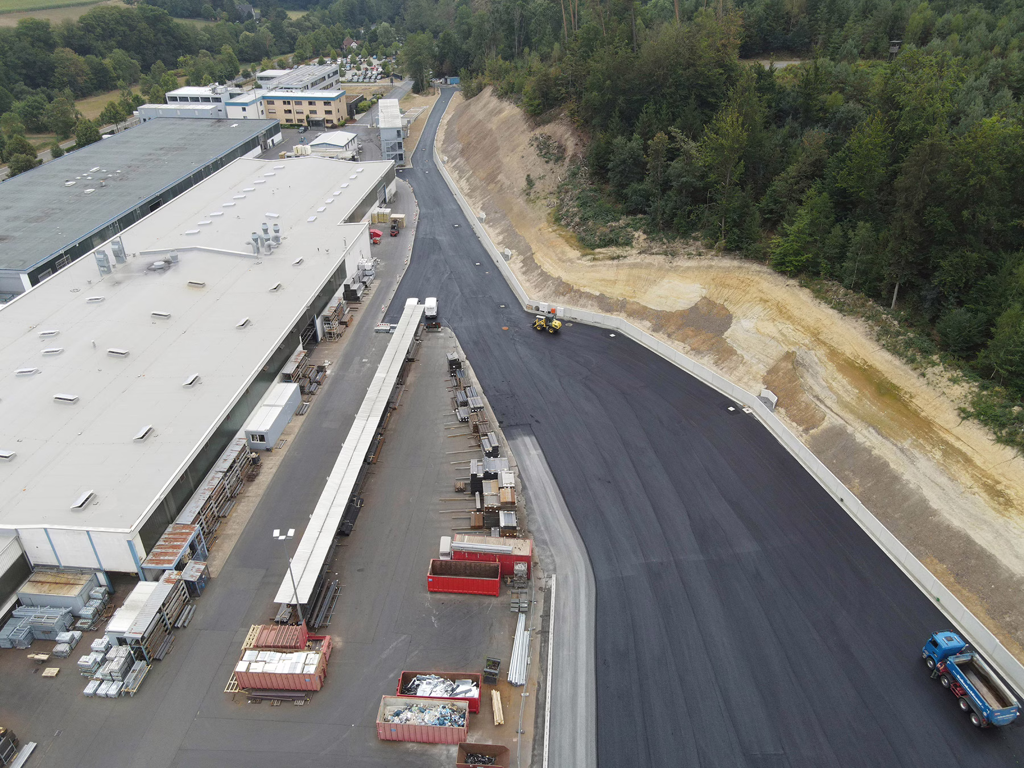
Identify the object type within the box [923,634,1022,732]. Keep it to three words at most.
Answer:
truck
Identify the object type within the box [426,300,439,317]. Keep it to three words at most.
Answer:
vehicle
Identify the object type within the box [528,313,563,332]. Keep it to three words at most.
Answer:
work vehicle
